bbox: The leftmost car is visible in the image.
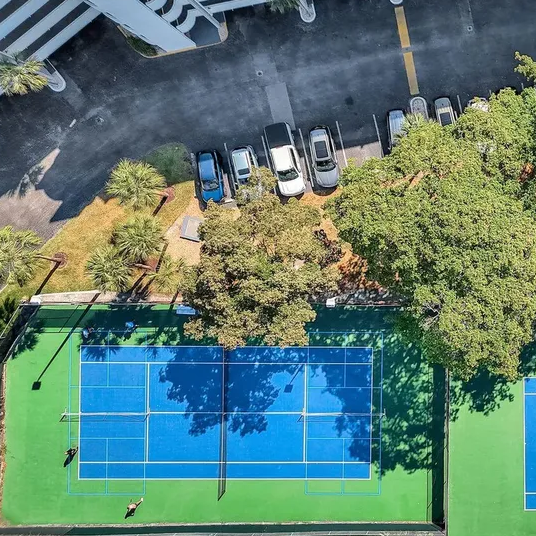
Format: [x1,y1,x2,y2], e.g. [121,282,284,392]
[195,151,227,204]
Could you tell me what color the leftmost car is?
blue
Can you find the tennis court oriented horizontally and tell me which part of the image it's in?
bottom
